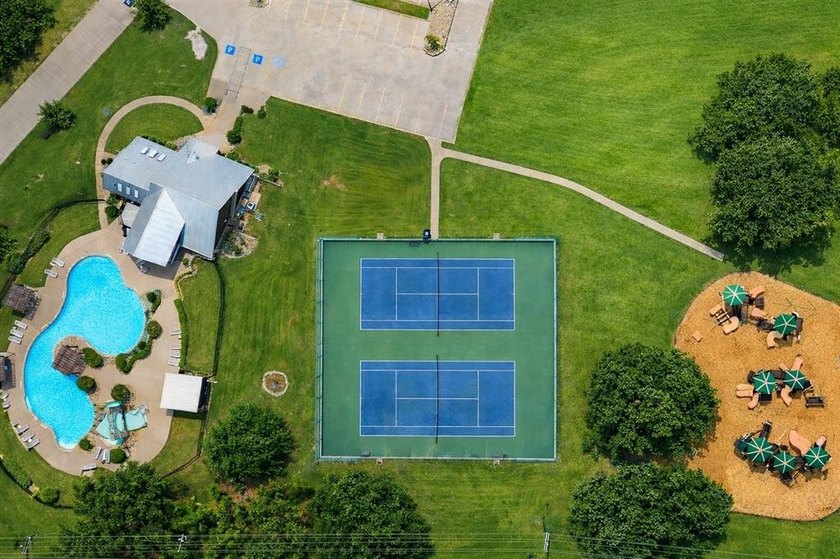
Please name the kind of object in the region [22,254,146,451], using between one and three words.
swimming pool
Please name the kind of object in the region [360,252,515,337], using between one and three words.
tennis court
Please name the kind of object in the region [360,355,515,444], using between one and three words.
tennis court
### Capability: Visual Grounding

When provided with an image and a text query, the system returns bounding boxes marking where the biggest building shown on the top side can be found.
[103,135,254,267]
